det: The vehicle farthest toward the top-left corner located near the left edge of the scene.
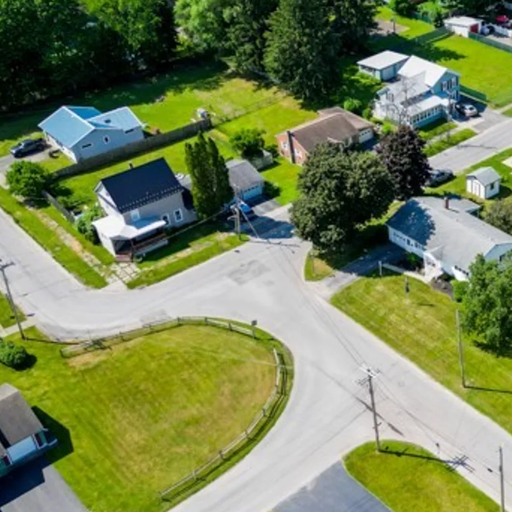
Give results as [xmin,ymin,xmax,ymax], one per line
[8,137,47,155]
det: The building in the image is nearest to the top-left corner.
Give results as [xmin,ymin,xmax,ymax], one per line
[40,105,145,161]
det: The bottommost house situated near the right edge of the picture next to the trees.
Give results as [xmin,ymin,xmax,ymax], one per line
[388,193,512,283]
